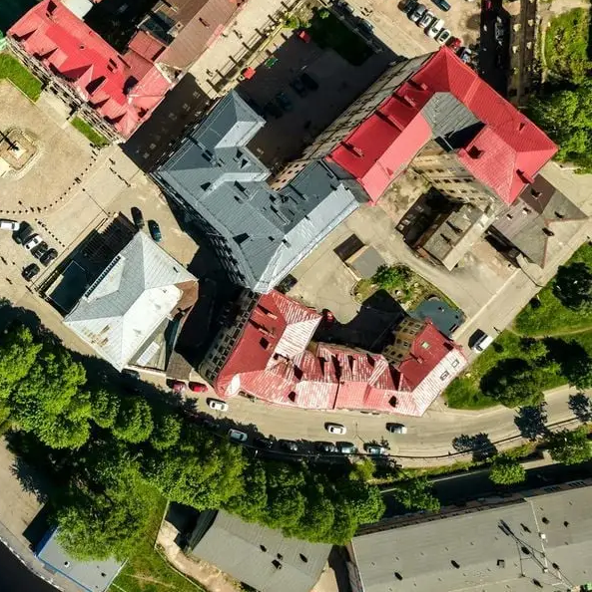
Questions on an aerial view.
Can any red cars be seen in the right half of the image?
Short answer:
Yes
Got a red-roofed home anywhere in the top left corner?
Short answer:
Yes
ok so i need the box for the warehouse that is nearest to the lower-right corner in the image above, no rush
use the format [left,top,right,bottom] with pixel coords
[350,474,592,592]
